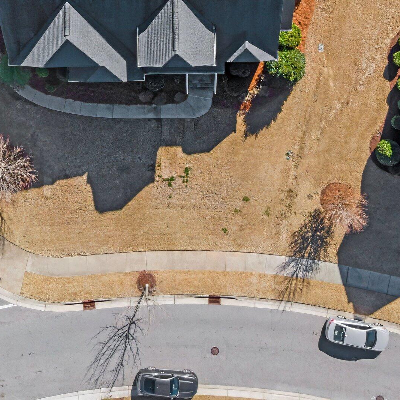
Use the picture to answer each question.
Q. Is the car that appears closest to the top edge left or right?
right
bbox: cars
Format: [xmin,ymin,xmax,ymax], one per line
[323,314,390,353]
[136,364,201,400]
